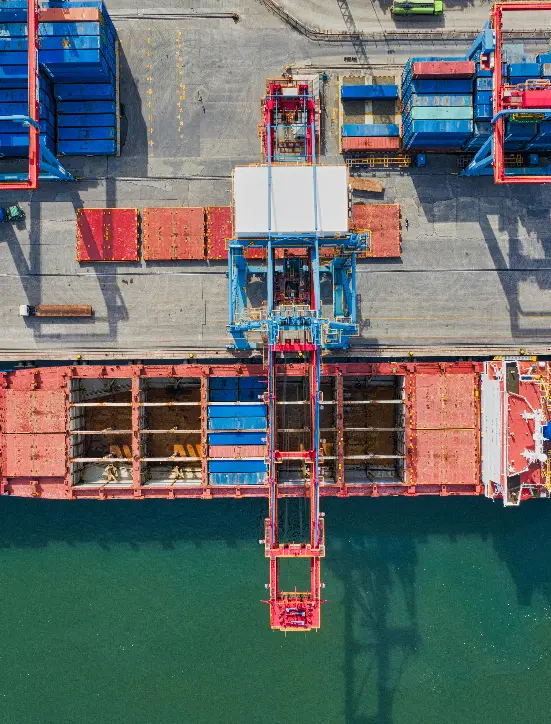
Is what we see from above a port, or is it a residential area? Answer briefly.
port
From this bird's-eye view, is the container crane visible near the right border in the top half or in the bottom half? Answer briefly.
top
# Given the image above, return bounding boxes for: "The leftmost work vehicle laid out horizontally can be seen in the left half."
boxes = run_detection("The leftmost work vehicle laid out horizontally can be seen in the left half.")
[2,208,29,221]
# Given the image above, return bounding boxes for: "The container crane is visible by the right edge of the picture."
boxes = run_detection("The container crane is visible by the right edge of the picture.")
[459,4,551,186]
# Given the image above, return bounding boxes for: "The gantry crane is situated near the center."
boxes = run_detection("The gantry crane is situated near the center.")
[221,74,374,637]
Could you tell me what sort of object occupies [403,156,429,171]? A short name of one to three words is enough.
work vehicle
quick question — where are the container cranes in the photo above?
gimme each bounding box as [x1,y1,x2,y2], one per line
[221,74,374,637]
[459,4,551,186]
[0,0,72,194]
